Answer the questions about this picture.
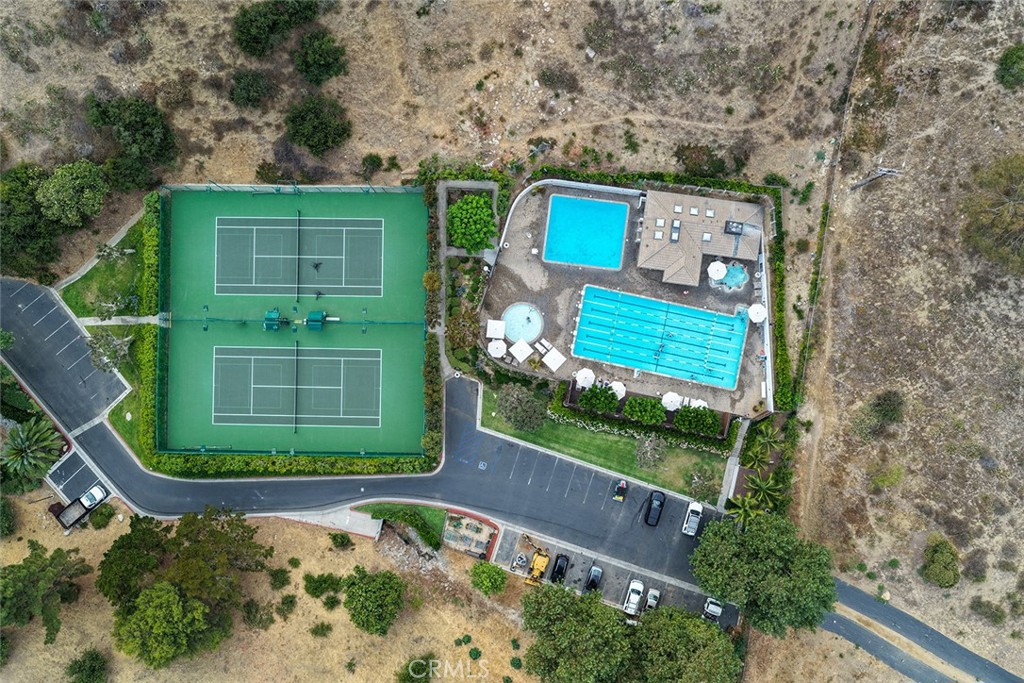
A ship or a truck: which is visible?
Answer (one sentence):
The image shows a truck.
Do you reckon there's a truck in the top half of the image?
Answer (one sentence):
No, looking in the top half of the image, there is no truck.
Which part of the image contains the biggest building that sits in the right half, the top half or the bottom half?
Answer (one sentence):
The biggest building that sits in the right half sits in the top half of the picture.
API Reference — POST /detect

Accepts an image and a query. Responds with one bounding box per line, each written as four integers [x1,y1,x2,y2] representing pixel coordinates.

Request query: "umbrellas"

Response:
[576,368,595,387]
[542,347,566,371]
[488,339,506,357]
[509,338,534,362]
[688,395,708,414]
[662,392,681,411]
[707,261,726,280]
[607,381,626,400]
[487,320,505,338]
[747,304,766,322]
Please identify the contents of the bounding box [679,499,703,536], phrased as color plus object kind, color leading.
white car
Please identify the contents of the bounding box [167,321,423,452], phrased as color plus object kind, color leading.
green tennis court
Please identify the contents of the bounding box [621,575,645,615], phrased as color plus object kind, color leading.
white car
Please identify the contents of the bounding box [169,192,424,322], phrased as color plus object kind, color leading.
green tennis court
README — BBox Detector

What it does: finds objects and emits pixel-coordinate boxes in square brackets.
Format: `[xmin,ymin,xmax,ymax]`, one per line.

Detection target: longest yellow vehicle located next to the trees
[522,530,552,585]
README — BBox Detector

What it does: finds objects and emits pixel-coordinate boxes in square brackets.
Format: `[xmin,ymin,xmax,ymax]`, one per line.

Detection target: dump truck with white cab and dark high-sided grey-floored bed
[52,483,107,531]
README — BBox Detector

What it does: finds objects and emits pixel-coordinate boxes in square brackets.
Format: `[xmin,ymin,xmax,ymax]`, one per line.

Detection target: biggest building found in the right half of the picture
[637,190,764,287]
